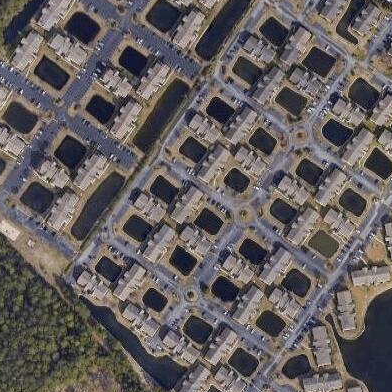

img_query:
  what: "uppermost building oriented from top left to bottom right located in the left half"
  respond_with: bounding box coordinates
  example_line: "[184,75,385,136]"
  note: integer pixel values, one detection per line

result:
[50,31,87,66]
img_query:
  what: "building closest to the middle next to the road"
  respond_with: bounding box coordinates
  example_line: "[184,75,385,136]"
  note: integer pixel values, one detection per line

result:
[170,185,203,223]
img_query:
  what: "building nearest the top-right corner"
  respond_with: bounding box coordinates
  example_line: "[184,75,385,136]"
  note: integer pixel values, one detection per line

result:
[351,0,383,37]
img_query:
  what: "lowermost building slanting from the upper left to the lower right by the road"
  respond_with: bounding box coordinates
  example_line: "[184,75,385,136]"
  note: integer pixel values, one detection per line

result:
[211,363,248,392]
